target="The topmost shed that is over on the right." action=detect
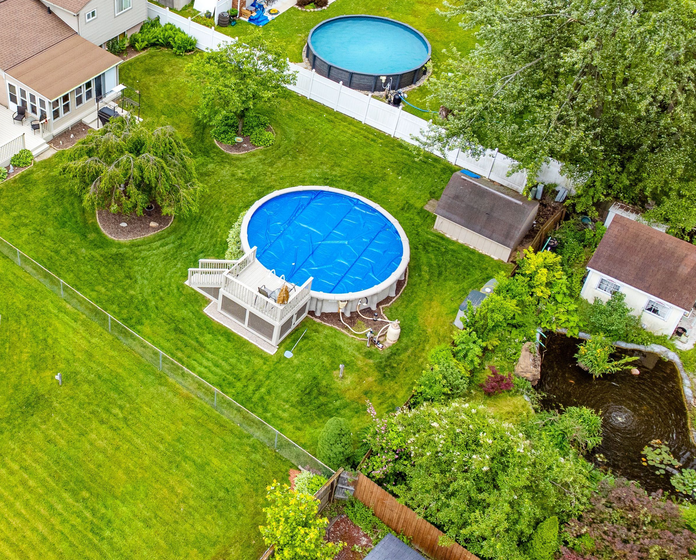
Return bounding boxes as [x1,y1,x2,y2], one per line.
[432,172,542,260]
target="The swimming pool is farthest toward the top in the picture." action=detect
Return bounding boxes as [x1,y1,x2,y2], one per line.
[306,15,431,92]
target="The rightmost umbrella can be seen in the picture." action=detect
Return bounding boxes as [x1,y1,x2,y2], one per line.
[275,282,288,306]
